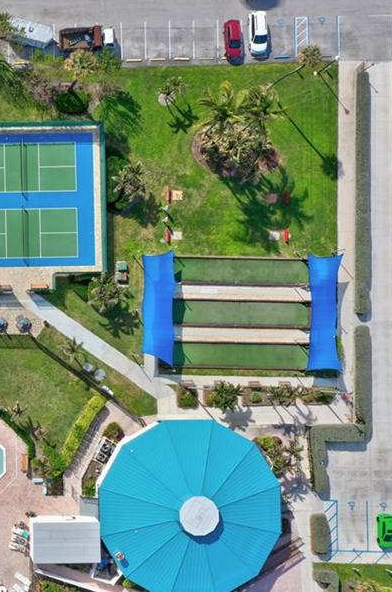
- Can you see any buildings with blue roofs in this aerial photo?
Yes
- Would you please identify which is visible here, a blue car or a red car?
red car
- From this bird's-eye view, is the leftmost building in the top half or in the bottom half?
bottom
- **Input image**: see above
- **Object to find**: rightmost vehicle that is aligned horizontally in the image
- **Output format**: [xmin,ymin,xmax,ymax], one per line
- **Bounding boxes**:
[53,26,118,52]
